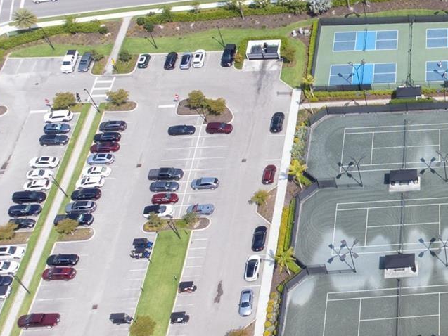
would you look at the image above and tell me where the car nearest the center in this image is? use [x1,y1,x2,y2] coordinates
[193,178,219,190]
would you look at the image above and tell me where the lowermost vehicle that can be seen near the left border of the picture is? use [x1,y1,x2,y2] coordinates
[19,312,60,328]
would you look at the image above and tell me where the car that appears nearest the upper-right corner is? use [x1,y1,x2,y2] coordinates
[270,112,285,133]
